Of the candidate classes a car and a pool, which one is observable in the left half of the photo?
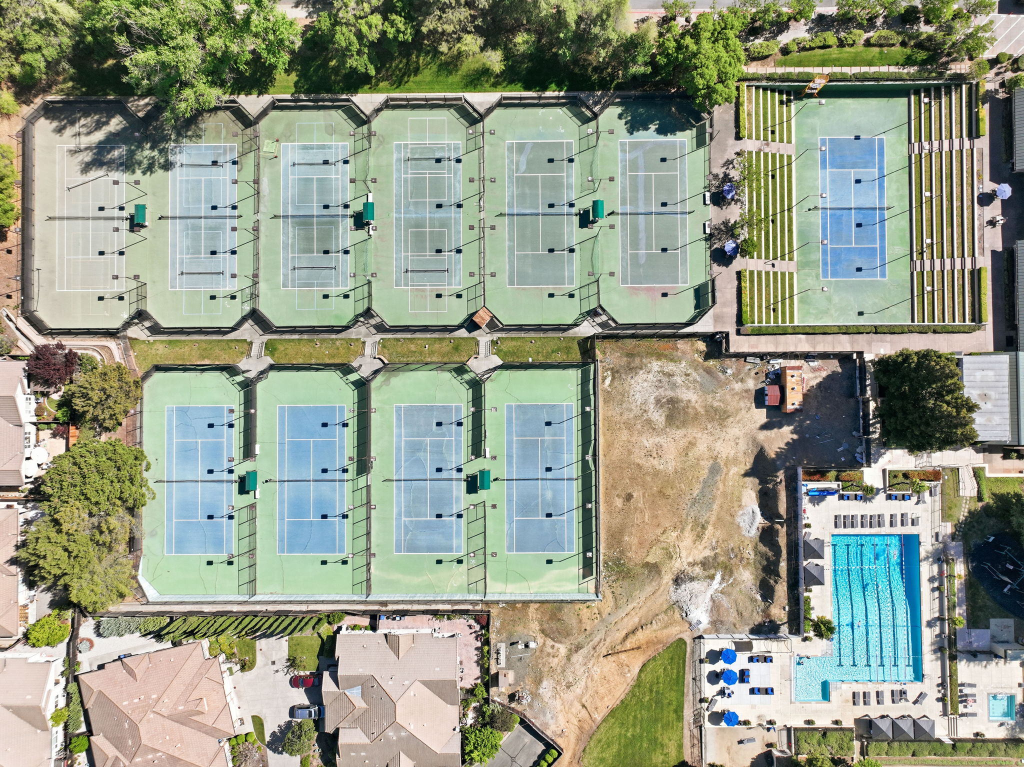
car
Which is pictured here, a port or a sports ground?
sports ground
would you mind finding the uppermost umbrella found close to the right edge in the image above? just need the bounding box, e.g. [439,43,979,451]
[991,183,1011,199]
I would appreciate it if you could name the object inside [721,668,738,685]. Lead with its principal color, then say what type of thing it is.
blue umbrella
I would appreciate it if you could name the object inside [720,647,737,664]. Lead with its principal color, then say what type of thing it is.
blue umbrella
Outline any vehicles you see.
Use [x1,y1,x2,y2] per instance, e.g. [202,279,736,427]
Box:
[292,705,323,722]
[290,676,320,692]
